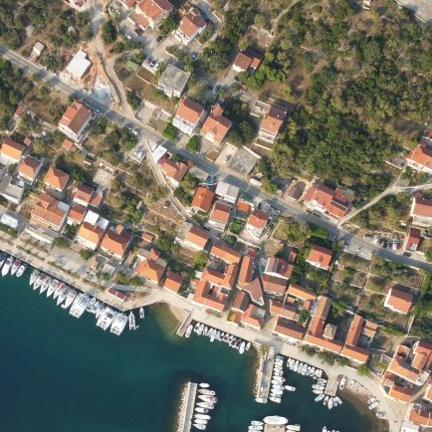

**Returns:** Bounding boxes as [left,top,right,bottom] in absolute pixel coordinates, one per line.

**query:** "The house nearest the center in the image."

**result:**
[207,201,231,232]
